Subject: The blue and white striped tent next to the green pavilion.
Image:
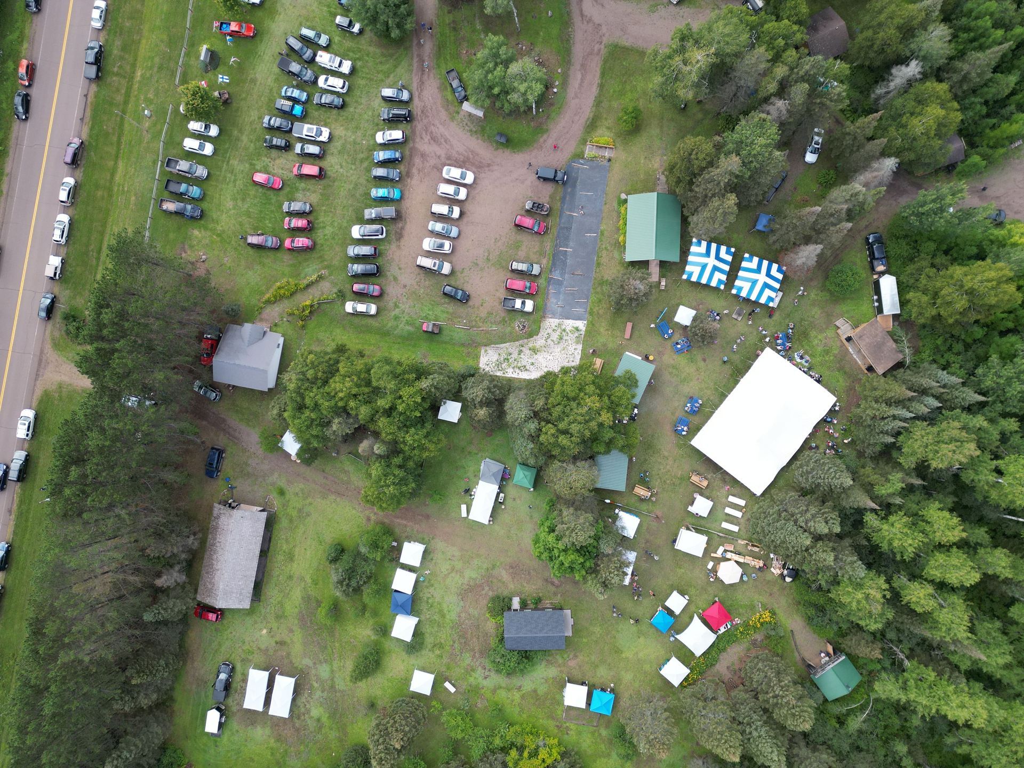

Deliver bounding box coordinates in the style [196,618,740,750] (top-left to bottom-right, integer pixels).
[675,237,735,297]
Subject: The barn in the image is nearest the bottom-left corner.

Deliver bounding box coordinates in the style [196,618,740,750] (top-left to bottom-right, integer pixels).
[197,502,276,609]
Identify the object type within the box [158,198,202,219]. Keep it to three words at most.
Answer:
truck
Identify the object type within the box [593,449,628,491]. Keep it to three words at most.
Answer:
shed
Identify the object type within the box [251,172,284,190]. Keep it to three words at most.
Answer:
car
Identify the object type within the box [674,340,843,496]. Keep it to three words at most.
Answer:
tent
